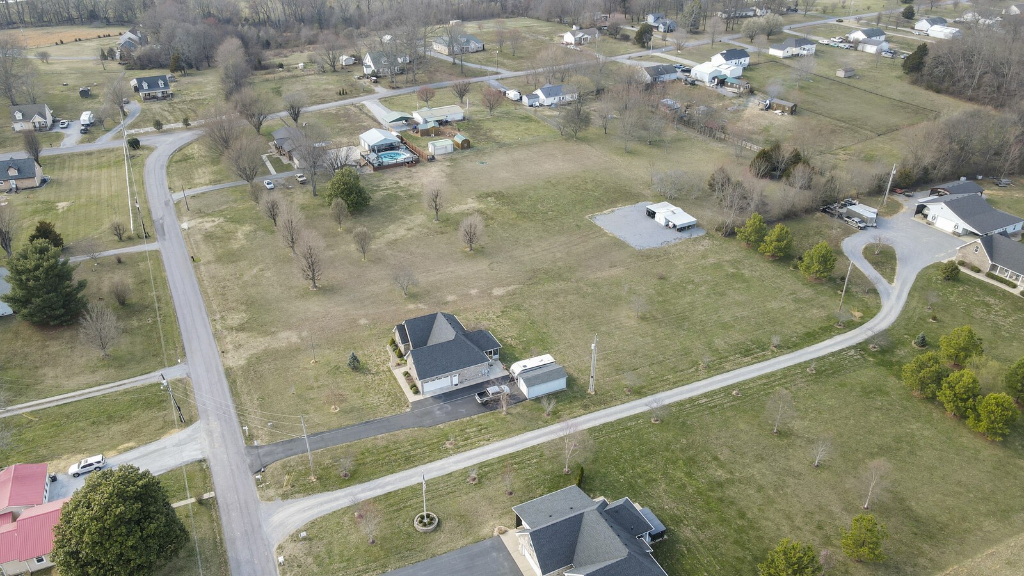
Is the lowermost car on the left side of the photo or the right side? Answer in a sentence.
The lowermost car is on the left side of the image.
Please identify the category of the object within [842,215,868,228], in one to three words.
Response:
vehicle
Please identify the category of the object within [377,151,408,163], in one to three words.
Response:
swimming pool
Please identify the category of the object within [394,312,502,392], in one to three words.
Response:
house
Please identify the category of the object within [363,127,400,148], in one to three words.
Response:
building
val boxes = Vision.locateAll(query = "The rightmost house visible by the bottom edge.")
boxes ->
[509,484,671,576]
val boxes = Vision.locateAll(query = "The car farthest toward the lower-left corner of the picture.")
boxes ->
[66,453,105,479]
